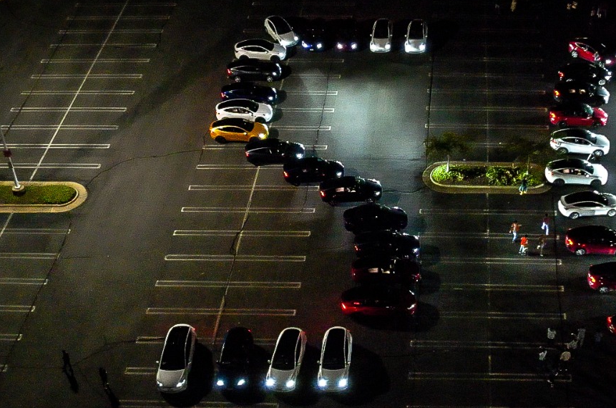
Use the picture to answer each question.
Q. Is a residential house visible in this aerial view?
No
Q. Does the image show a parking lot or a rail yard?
parking lot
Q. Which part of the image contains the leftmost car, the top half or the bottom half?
bottom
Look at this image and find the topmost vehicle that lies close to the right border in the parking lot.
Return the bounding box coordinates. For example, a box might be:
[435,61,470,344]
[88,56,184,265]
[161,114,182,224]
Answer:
[565,37,616,67]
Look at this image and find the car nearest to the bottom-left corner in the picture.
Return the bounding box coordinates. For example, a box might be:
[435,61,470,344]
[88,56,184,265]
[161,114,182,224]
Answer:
[157,331,199,396]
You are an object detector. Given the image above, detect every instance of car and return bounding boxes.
[157,331,199,396]
[548,129,610,156]
[341,205,410,234]
[316,326,357,391]
[585,263,616,294]
[219,83,279,105]
[335,19,360,51]
[300,18,325,50]
[216,326,258,391]
[556,191,616,220]
[318,175,386,205]
[404,19,429,54]
[556,64,614,87]
[368,19,394,53]
[233,39,290,64]
[565,37,616,67]
[243,139,309,167]
[266,326,307,392]
[262,17,298,48]
[226,61,284,85]
[548,102,609,130]
[214,98,276,124]
[351,231,423,259]
[563,227,616,257]
[551,80,612,107]
[207,117,271,144]
[543,159,609,189]
[281,158,347,186]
